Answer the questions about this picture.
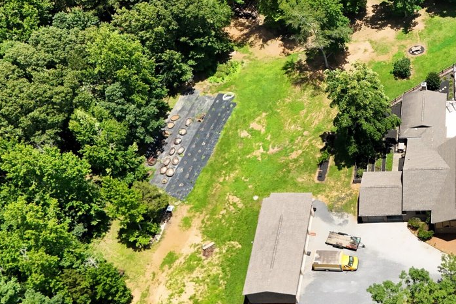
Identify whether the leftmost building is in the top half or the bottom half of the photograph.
bottom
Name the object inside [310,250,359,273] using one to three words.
truck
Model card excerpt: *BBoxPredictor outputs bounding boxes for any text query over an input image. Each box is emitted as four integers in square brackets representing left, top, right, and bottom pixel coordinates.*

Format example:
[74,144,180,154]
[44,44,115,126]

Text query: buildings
[242,188,314,301]
[398,84,456,233]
